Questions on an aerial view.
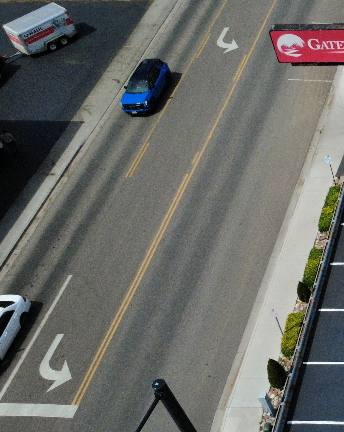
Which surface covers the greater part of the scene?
paved ground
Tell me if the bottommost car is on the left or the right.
left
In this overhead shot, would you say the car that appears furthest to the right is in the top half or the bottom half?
top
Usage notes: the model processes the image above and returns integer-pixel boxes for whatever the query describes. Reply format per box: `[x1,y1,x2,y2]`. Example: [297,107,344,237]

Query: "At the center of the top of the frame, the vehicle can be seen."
[117,61,169,113]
